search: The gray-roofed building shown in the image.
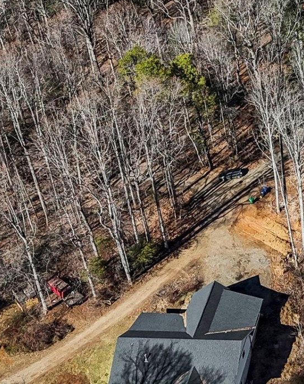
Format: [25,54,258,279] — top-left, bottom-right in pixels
[105,280,263,384]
